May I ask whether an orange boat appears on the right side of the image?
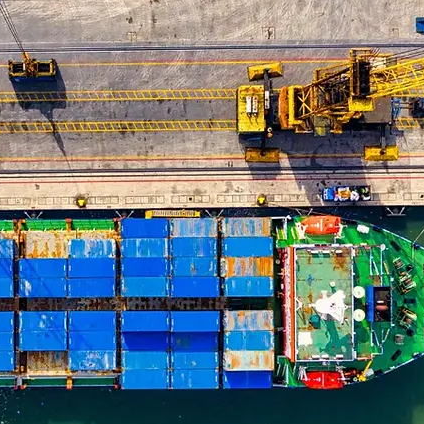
Yes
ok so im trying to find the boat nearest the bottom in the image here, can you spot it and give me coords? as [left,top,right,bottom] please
[300,369,346,390]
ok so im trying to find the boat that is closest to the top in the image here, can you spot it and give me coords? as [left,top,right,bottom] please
[297,214,343,235]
